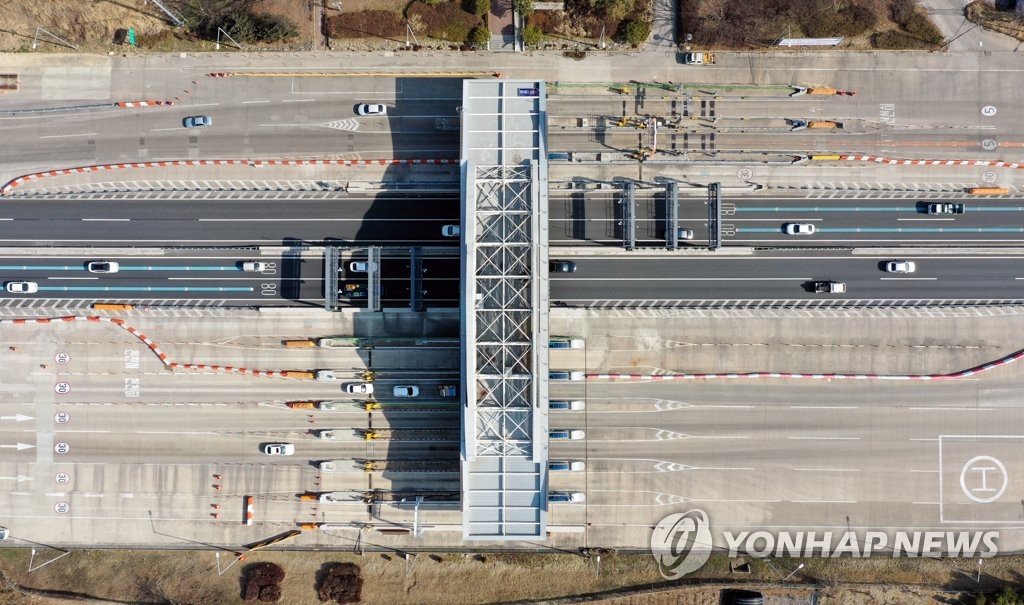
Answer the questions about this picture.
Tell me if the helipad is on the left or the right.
right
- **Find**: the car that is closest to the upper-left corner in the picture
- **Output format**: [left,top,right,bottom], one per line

[184,114,214,128]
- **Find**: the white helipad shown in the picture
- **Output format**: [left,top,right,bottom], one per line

[941,436,1024,523]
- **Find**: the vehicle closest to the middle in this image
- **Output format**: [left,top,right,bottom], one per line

[548,260,576,273]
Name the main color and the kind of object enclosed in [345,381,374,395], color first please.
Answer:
white car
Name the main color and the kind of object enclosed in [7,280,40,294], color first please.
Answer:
white car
